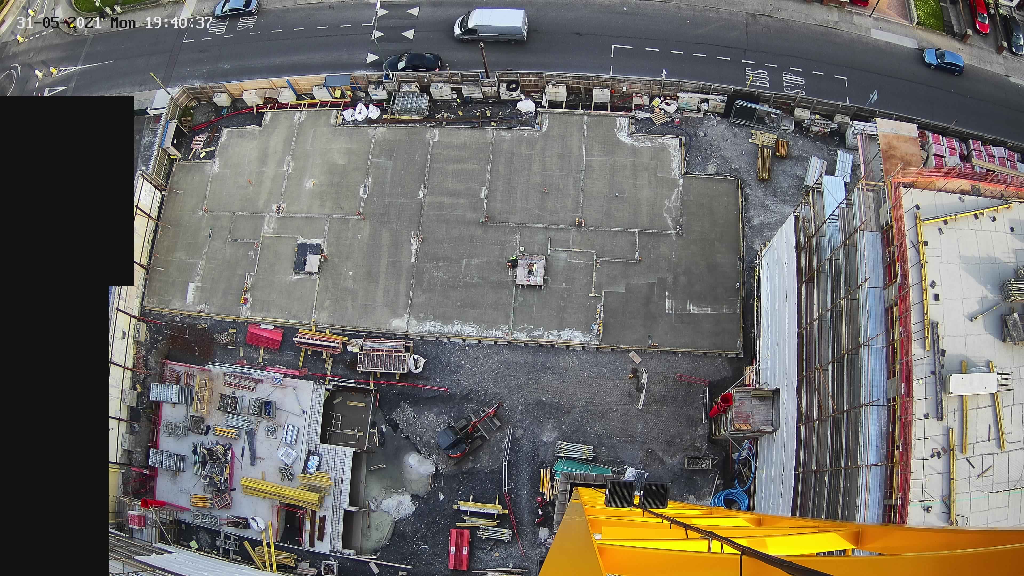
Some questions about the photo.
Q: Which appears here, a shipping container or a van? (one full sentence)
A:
There is a van in the scene.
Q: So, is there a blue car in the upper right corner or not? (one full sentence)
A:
Yes, you'll find a blue car in the upper right corner.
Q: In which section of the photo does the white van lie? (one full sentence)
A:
You can find the white van in the top area of the picture.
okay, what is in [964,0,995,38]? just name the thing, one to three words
car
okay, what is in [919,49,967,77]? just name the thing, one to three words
car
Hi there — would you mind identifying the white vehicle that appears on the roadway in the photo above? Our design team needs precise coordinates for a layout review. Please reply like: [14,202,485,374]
[455,8,528,45]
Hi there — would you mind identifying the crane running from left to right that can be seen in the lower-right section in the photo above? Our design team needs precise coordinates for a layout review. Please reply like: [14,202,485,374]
[538,491,1024,576]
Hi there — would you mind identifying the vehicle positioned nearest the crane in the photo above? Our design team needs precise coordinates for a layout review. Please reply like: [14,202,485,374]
[431,399,503,465]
